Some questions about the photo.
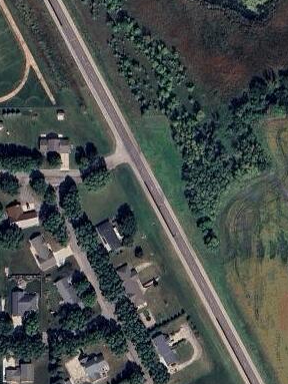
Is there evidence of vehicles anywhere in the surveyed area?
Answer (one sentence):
No, no vehicle is visible in the view.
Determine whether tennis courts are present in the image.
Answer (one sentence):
No, there isn't any tennis court down there.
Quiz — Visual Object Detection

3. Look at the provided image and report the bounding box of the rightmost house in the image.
[151,333,180,365]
